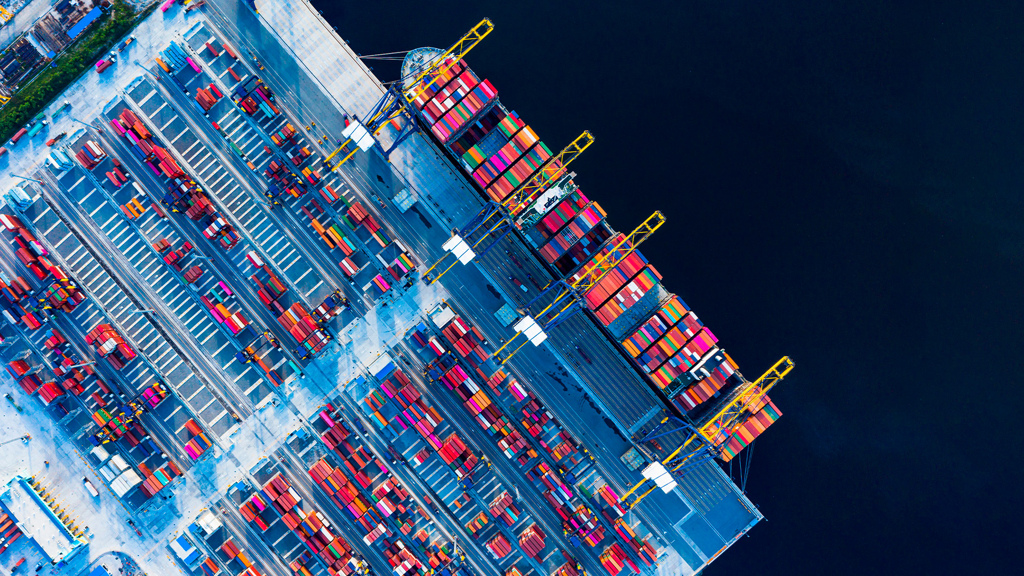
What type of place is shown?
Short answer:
port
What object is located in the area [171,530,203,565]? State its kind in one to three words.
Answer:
building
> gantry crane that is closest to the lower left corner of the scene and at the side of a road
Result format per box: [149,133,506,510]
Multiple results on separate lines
[89,413,143,450]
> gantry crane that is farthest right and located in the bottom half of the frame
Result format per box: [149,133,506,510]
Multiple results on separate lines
[620,355,796,508]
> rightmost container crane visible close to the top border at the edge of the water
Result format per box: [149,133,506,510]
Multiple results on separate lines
[324,17,496,172]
